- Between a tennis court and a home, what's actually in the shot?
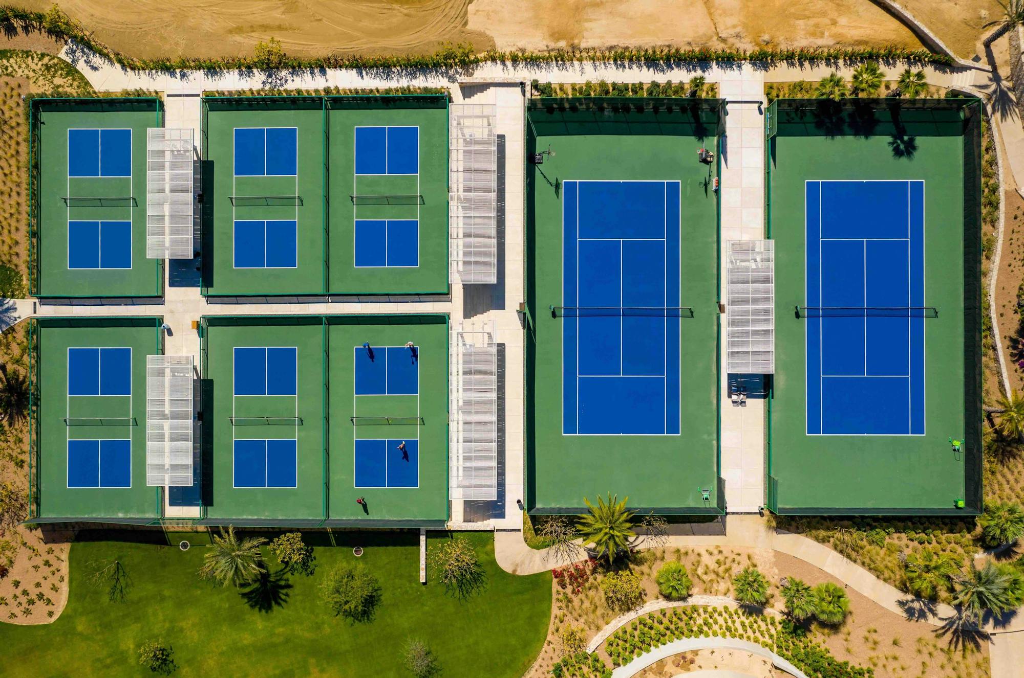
tennis court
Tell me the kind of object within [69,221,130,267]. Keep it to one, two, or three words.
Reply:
sports court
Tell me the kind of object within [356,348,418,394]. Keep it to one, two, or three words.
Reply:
sports court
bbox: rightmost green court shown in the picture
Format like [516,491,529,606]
[765,107,965,509]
